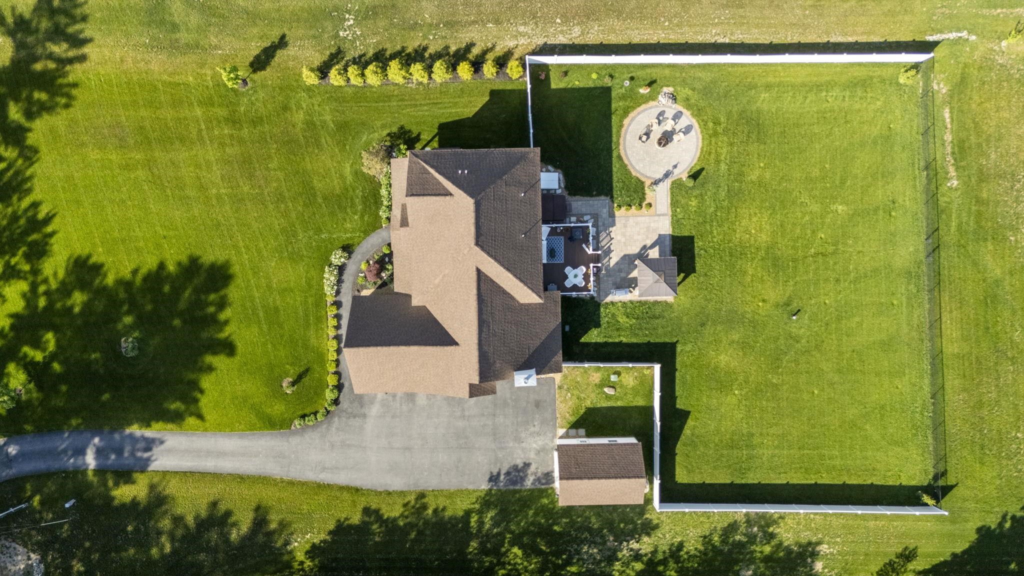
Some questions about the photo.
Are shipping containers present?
No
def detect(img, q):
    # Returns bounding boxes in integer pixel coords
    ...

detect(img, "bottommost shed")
[554,439,646,506]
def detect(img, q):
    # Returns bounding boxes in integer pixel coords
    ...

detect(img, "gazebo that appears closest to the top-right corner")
[634,256,678,298]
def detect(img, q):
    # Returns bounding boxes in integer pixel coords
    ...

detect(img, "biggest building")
[343,149,563,400]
